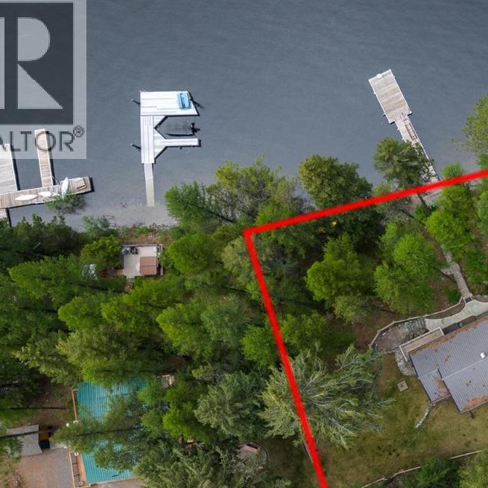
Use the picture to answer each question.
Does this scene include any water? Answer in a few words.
Yes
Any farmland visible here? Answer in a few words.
No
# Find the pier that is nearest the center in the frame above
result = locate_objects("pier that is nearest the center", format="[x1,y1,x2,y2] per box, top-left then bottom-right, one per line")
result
[129,91,200,207]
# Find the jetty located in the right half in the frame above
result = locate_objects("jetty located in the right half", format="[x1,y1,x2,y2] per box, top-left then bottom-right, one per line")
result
[368,70,441,185]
